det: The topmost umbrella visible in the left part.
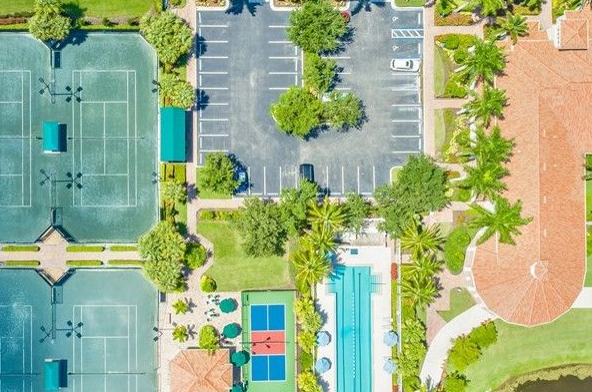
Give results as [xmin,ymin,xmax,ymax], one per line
[217,296,237,314]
